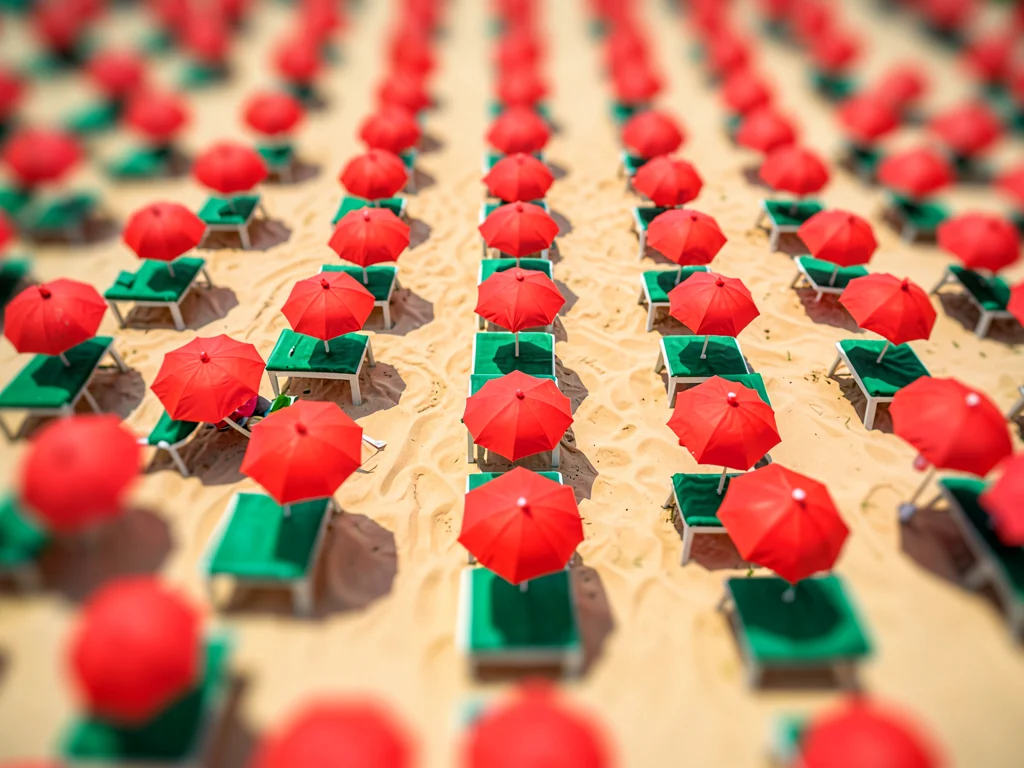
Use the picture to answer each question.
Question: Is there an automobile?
No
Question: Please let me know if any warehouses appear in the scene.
No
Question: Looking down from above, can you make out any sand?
Yes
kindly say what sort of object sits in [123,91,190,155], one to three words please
umbrella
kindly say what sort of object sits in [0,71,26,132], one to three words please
umbrella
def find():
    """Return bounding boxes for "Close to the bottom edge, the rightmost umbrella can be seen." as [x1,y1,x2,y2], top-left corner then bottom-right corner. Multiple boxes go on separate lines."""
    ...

[790,688,943,768]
